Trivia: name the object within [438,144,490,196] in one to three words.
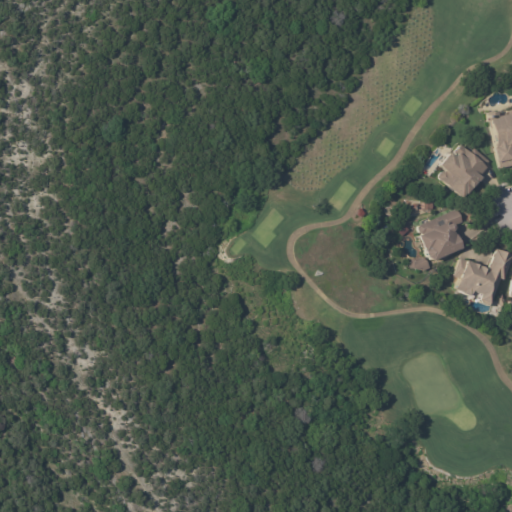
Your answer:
house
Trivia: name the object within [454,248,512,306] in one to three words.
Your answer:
house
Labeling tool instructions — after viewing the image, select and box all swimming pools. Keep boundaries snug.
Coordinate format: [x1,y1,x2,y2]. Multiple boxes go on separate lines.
[488,92,512,106]
[472,302,491,312]
[426,149,440,169]
[404,239,418,258]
